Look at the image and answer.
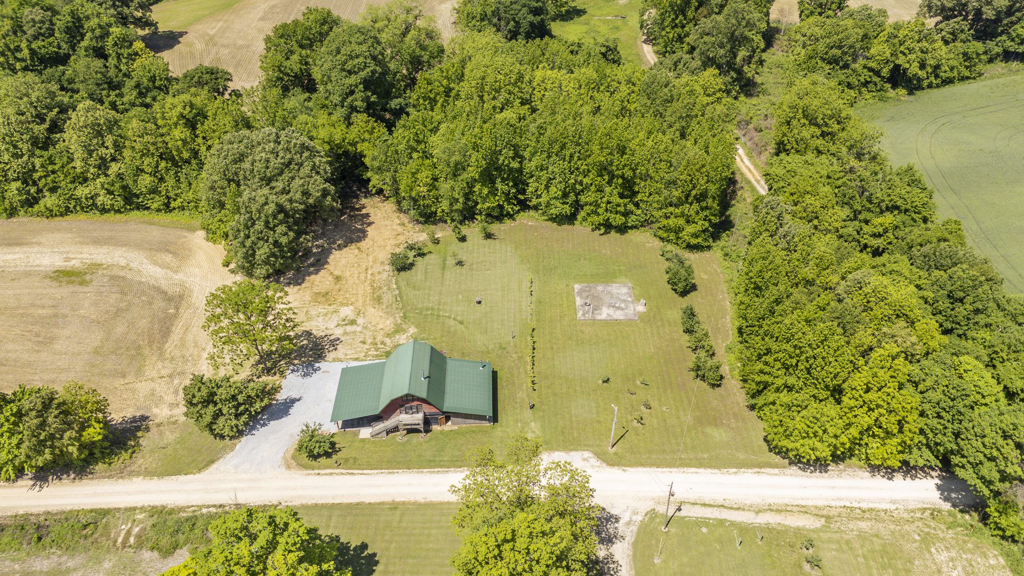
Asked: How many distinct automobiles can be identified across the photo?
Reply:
none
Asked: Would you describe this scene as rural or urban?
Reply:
rural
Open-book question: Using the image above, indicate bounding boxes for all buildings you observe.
[330,339,493,438]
